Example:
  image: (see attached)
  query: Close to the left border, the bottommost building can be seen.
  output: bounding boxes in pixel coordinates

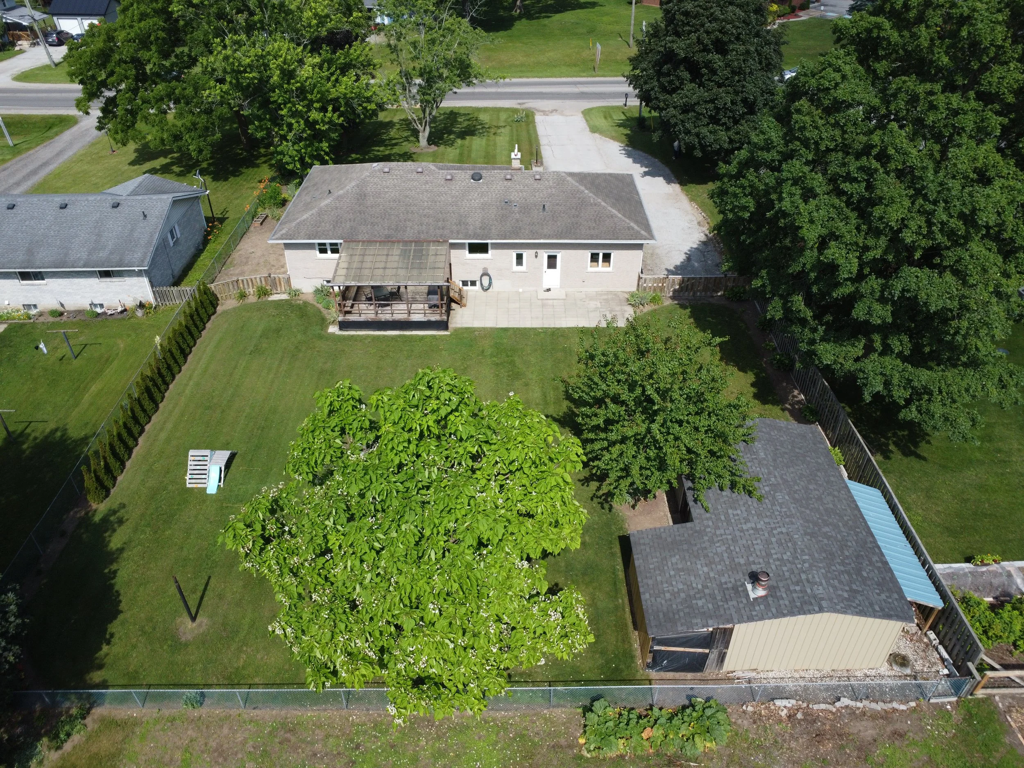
[0,171,208,305]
